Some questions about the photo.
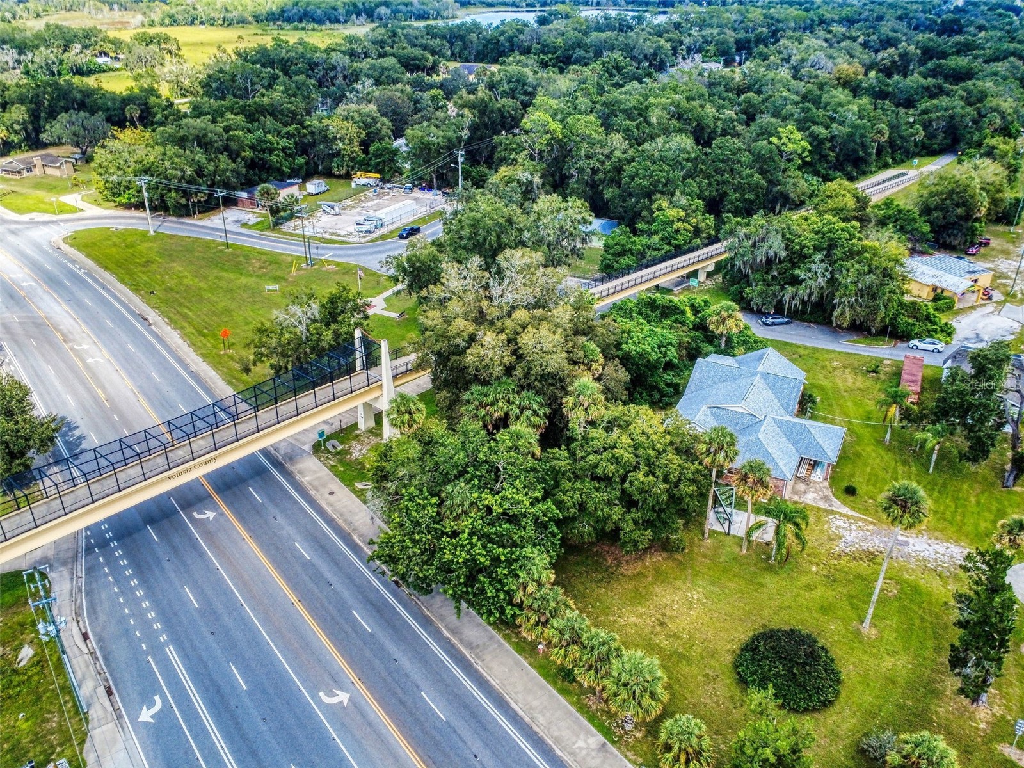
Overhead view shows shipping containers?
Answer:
Yes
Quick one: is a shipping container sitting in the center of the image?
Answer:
No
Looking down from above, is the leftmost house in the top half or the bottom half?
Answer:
top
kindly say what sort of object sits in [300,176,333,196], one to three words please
vehicle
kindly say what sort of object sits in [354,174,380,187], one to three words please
vehicle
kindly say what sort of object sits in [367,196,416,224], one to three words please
trailer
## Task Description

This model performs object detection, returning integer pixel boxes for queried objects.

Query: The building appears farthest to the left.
[0,151,76,185]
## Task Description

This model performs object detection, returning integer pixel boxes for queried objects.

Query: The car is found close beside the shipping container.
[909,339,946,354]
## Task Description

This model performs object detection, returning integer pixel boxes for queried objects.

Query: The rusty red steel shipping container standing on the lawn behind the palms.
[901,350,929,403]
